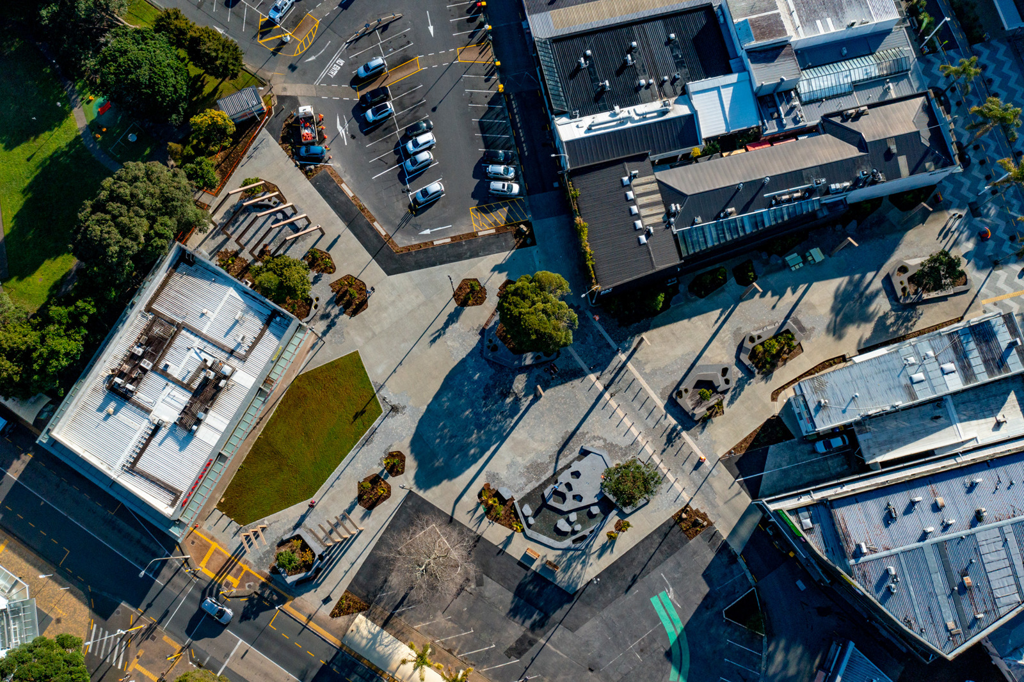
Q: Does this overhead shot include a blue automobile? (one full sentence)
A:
Yes, the photo shows a blue automobile.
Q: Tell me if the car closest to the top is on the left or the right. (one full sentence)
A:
The car closest to the top is on the left side of the image.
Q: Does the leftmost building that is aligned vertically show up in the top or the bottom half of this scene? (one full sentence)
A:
The leftmost building that is aligned vertically sits in the bottom half of the picture.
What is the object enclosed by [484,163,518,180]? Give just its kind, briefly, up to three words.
car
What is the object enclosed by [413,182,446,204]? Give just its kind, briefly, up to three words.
car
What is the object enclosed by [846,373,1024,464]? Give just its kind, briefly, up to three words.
building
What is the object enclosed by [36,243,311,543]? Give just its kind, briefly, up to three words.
building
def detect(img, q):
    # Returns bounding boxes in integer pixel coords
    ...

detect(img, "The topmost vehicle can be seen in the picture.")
[269,0,296,23]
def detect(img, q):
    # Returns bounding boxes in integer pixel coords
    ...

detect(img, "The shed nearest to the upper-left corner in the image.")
[217,86,272,131]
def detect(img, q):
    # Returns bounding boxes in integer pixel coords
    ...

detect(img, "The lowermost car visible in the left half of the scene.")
[198,594,237,628]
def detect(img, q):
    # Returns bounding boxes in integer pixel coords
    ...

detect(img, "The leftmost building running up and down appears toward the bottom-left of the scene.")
[0,566,40,653]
